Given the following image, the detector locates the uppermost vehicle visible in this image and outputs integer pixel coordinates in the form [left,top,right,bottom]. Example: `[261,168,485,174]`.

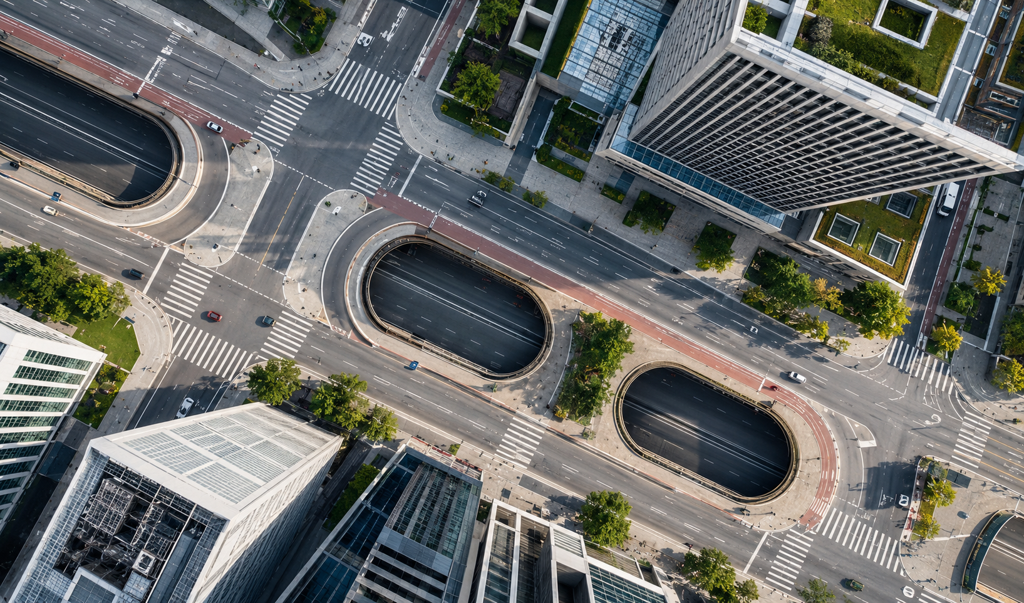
[356,33,370,48]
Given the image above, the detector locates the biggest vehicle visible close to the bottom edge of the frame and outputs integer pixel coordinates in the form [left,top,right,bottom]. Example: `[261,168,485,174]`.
[845,576,867,593]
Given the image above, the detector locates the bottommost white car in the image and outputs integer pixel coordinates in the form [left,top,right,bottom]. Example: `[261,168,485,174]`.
[897,493,909,507]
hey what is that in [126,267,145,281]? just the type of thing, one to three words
car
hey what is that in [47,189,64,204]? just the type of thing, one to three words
vehicle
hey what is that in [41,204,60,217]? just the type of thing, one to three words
vehicle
